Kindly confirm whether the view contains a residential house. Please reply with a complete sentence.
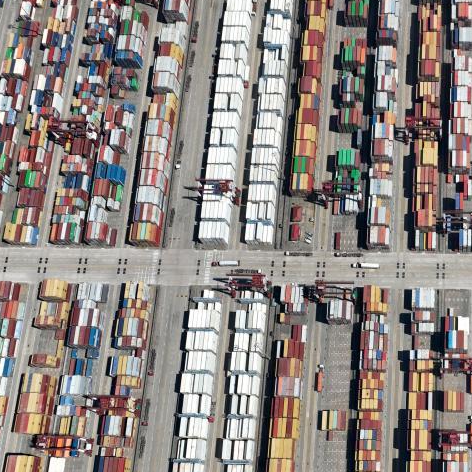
No, I find no residential house anywhere in the image.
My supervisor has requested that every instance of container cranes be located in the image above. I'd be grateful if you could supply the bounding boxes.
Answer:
[441,214,472,240]
[87,395,144,418]
[439,359,472,383]
[50,120,101,148]
[224,275,273,301]
[314,282,358,308]
[404,119,443,148]
[437,431,472,453]
[193,182,241,210]
[37,435,96,458]
[320,185,363,213]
